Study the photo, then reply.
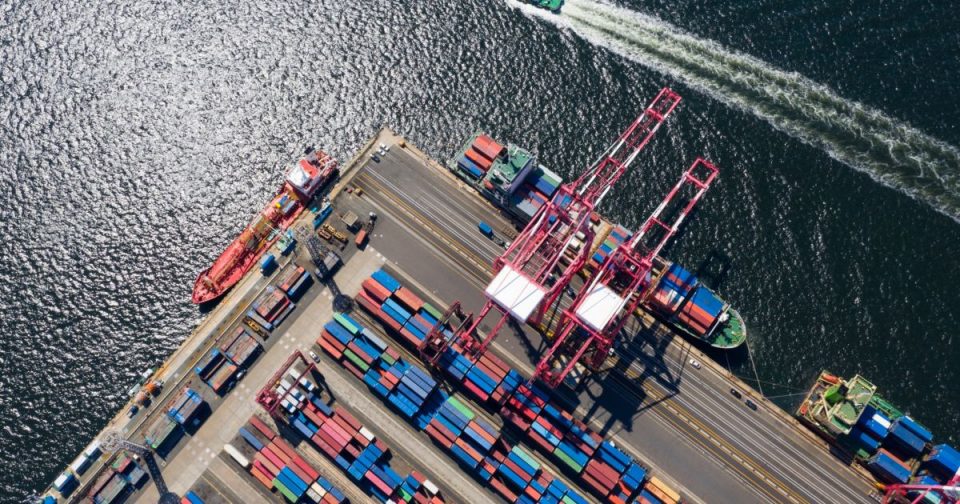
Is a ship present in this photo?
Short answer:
Yes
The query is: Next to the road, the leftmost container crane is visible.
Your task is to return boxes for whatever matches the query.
[256,348,325,420]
